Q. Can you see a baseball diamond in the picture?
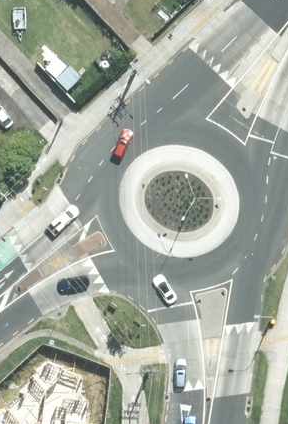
No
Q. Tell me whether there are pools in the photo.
No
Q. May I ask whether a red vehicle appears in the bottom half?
No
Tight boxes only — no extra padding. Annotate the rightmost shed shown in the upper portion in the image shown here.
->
[56,65,81,90]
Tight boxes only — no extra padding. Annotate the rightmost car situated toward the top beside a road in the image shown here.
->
[112,127,134,159]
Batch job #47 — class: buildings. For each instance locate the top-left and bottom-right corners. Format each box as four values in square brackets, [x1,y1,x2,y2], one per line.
[56,65,81,90]
[0,356,95,424]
